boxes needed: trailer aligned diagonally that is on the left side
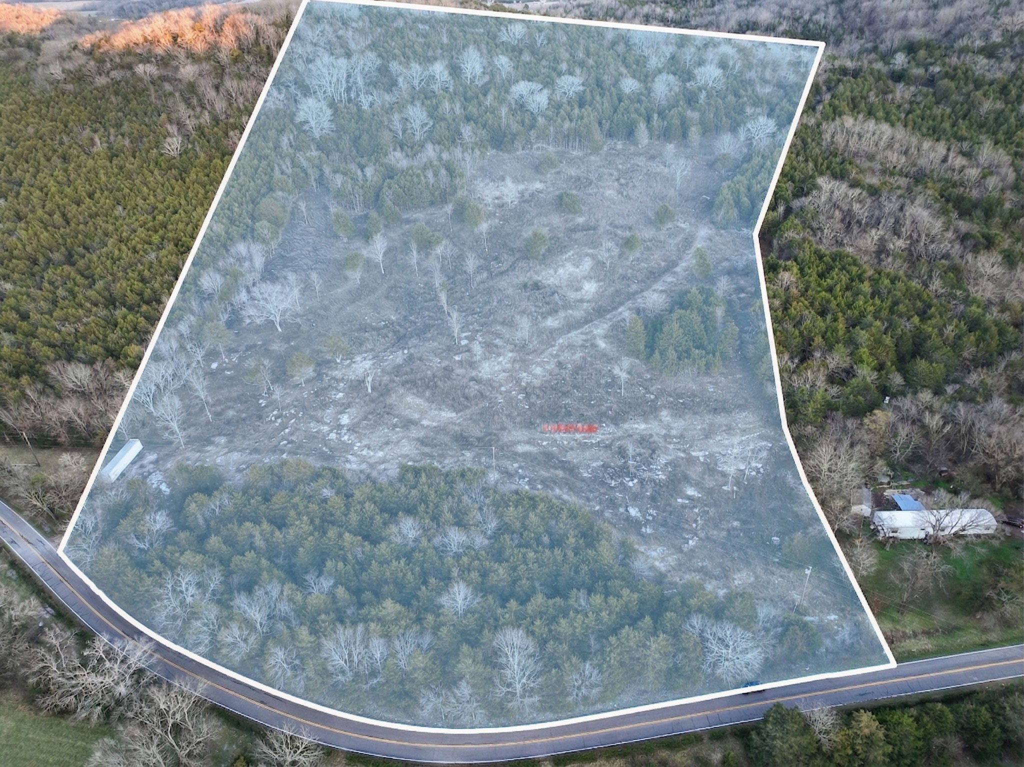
[99,440,143,480]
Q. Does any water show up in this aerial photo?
No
